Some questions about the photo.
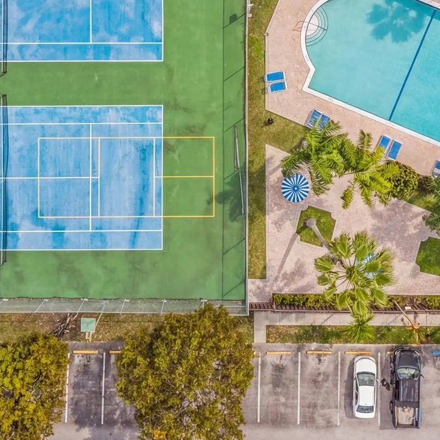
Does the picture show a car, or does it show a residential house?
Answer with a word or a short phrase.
car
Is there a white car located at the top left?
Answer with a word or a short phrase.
No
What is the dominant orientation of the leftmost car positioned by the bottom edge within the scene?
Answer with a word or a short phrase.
up and down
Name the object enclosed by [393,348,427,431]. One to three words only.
truck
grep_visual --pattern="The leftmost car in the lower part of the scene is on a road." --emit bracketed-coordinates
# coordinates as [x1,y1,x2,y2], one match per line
[352,358,381,424]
